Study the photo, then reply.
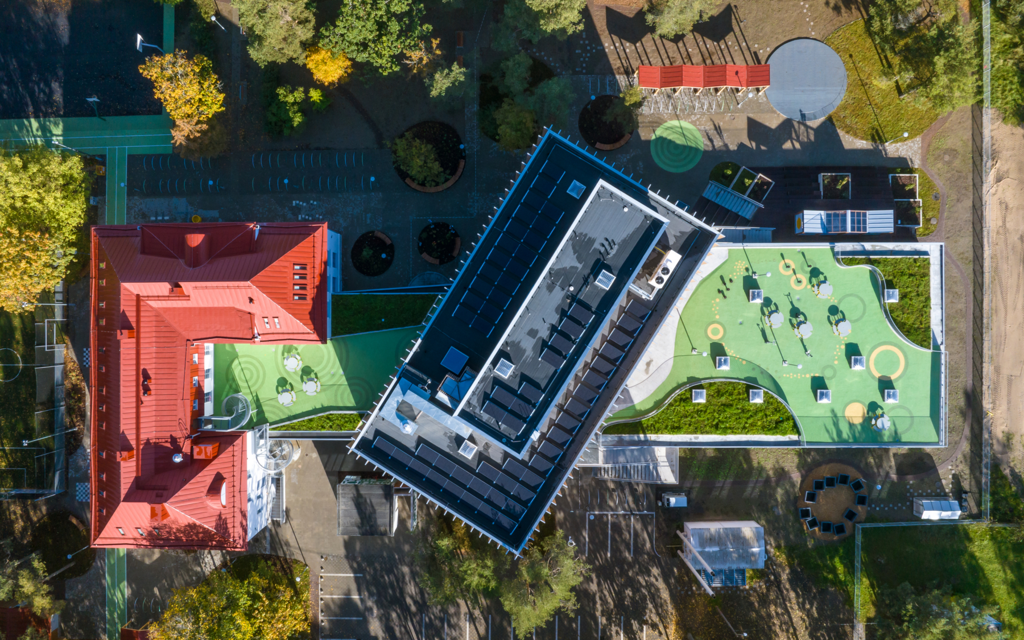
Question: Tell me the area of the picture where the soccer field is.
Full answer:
The soccer field is located in the left region of the scene.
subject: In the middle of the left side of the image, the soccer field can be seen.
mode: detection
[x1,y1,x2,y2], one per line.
[0,274,65,498]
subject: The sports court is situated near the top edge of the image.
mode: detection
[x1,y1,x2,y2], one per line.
[0,0,163,120]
